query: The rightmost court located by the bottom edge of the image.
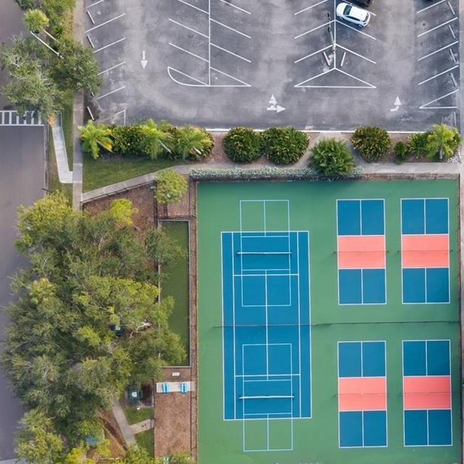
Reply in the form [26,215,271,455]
[400,340,454,447]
